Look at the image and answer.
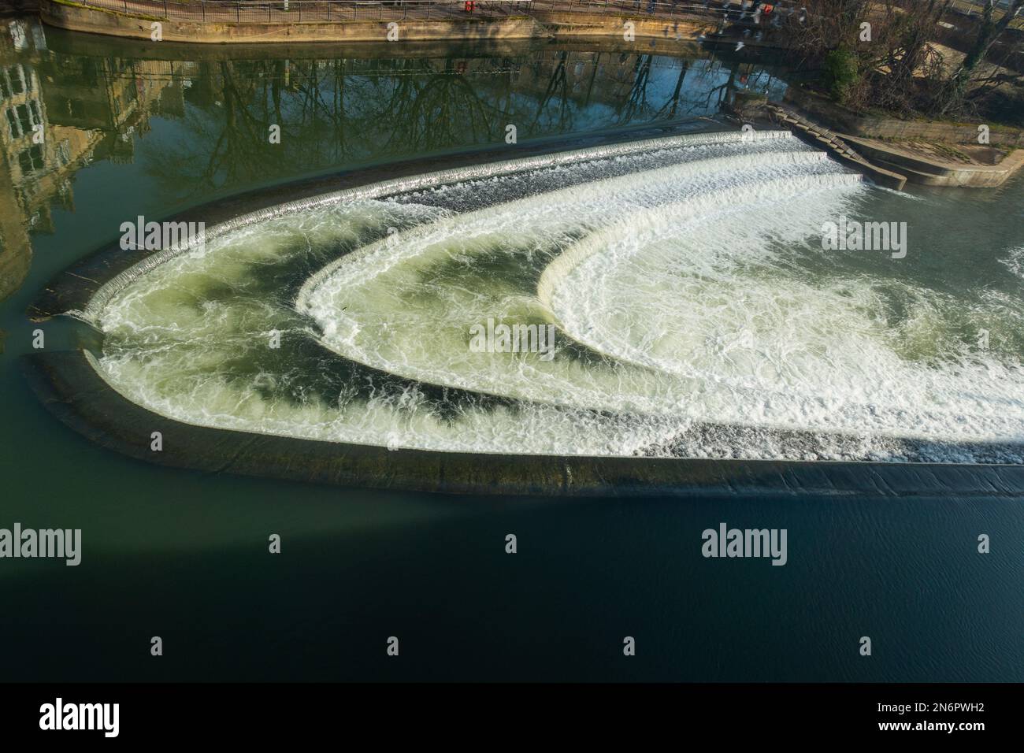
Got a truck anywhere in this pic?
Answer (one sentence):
No, there isn't any truck down there.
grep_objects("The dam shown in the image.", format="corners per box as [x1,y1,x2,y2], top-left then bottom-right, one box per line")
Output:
[21,114,1024,498]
